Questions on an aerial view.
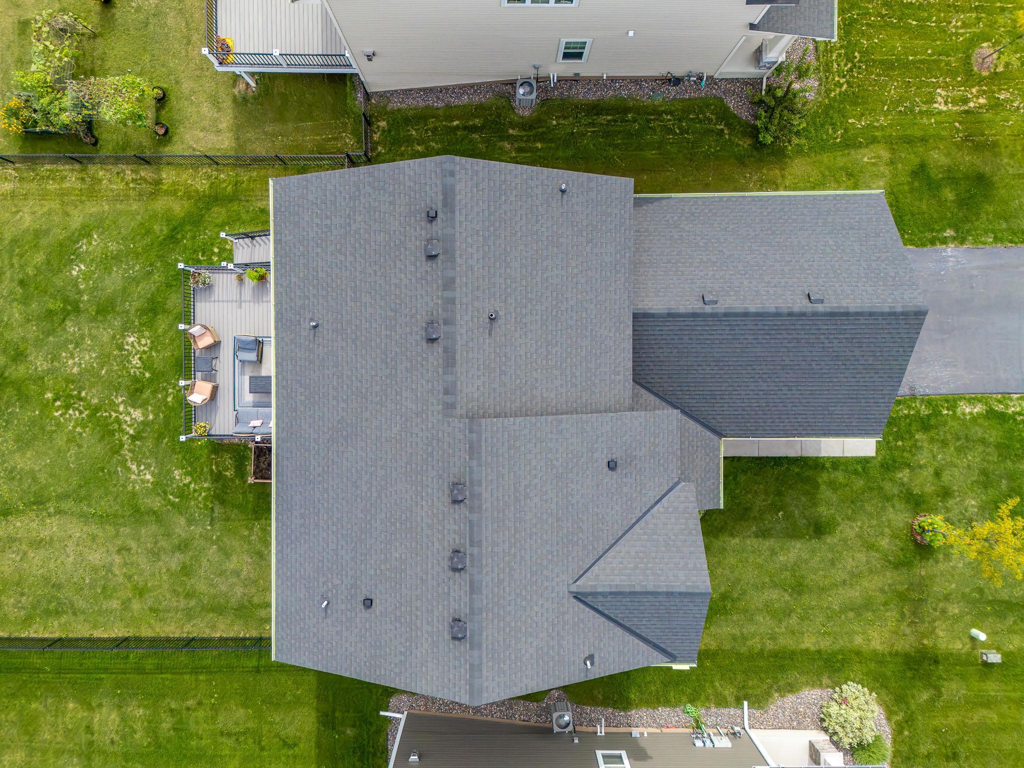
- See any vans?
No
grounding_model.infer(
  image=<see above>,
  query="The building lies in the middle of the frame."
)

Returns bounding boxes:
[268,154,927,703]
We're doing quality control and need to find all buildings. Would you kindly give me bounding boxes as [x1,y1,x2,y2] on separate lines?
[378,702,883,768]
[268,154,927,703]
[286,0,837,94]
